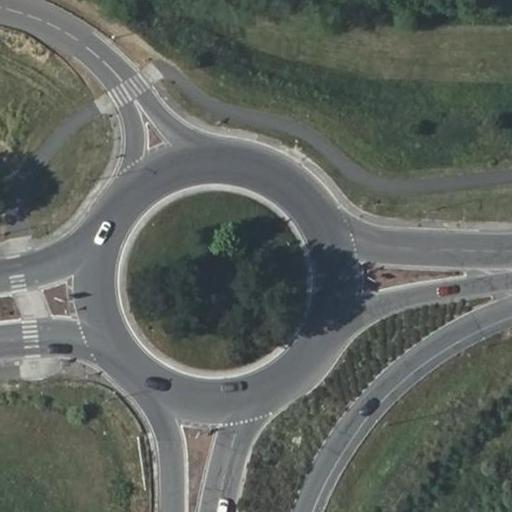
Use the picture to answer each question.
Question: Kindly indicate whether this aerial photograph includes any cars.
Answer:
Yes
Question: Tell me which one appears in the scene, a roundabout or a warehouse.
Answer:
roundabout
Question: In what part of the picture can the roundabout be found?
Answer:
center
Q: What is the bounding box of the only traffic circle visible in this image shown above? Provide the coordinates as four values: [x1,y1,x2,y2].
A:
[73,139,358,424]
